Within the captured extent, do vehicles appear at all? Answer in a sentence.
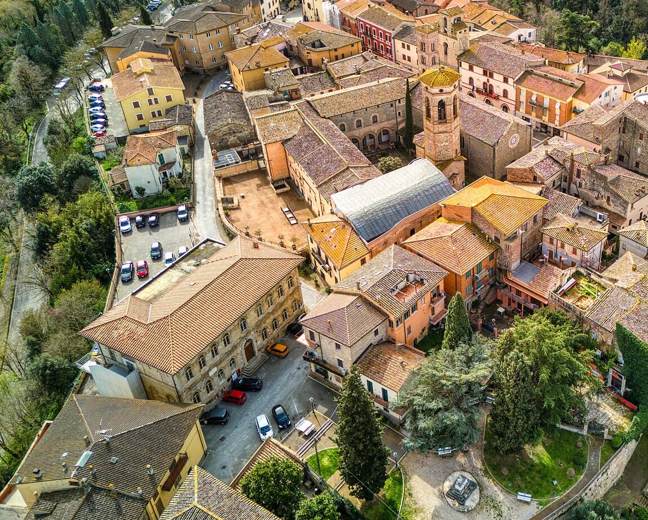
Yes, there is a vehicle in the image.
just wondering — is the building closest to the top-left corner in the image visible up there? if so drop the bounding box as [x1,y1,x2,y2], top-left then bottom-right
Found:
[100,25,168,75]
